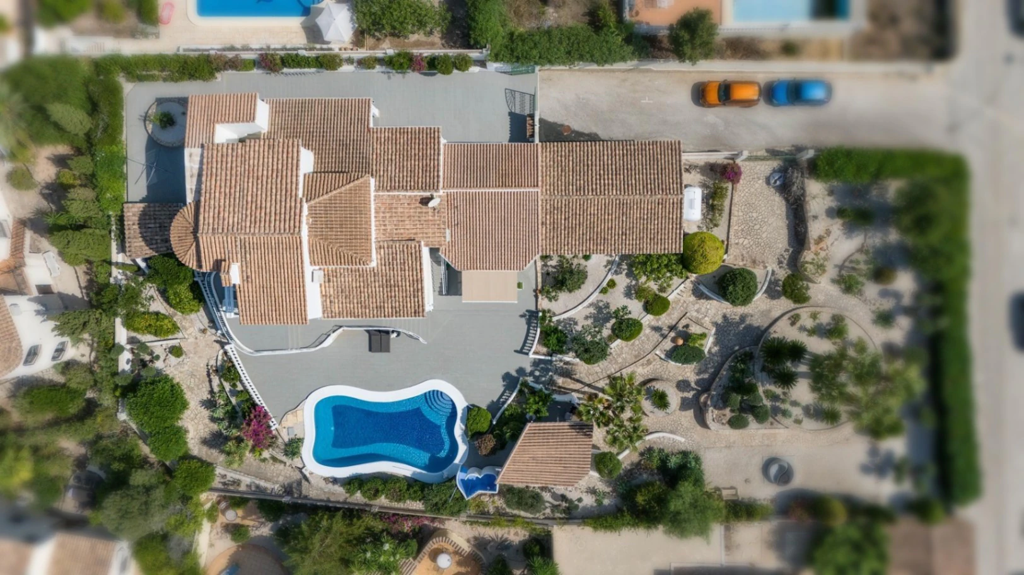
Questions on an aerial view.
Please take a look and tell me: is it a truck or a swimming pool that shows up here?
swimming pool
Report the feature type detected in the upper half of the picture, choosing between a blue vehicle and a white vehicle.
blue vehicle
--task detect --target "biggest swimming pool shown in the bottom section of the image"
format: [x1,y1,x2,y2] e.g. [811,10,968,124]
[301,379,468,482]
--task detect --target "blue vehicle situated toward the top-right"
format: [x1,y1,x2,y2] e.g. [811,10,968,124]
[770,74,832,105]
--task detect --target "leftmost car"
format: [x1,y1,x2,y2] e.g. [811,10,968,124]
[700,74,760,106]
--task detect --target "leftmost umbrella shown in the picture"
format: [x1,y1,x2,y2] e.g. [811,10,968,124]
[315,1,357,42]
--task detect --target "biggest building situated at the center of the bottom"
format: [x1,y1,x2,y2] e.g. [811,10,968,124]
[498,416,593,487]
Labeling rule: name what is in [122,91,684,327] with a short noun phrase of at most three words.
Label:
house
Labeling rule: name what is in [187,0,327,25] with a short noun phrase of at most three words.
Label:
swimming pool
